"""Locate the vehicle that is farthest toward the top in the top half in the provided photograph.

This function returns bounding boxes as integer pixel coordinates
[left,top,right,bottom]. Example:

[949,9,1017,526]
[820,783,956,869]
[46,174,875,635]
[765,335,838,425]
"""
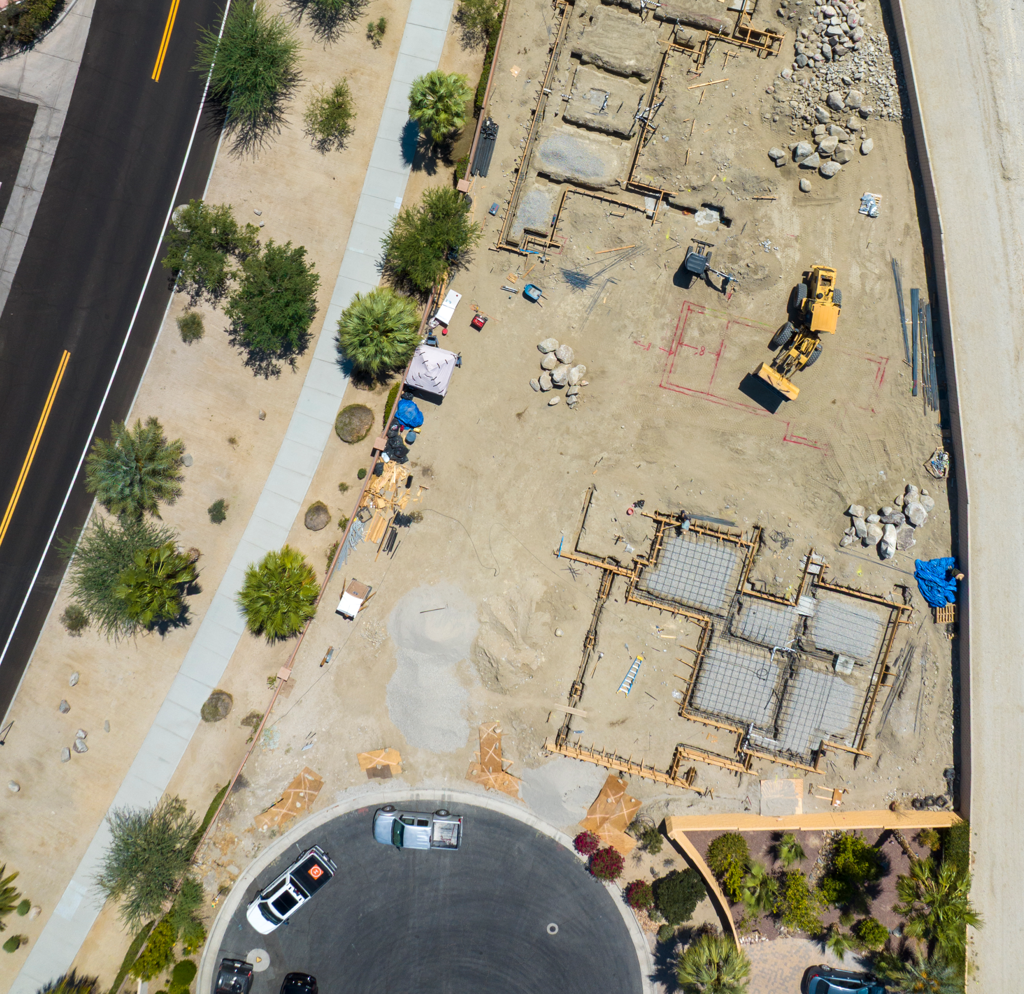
[682,238,737,281]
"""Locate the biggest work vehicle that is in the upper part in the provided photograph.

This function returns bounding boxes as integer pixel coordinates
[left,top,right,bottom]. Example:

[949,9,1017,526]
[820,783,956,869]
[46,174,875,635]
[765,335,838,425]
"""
[755,268,842,398]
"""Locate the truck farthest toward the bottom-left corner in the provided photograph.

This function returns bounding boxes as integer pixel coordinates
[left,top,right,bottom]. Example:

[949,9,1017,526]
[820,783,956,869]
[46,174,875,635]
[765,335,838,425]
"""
[212,954,253,994]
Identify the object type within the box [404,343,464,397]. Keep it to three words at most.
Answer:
tent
